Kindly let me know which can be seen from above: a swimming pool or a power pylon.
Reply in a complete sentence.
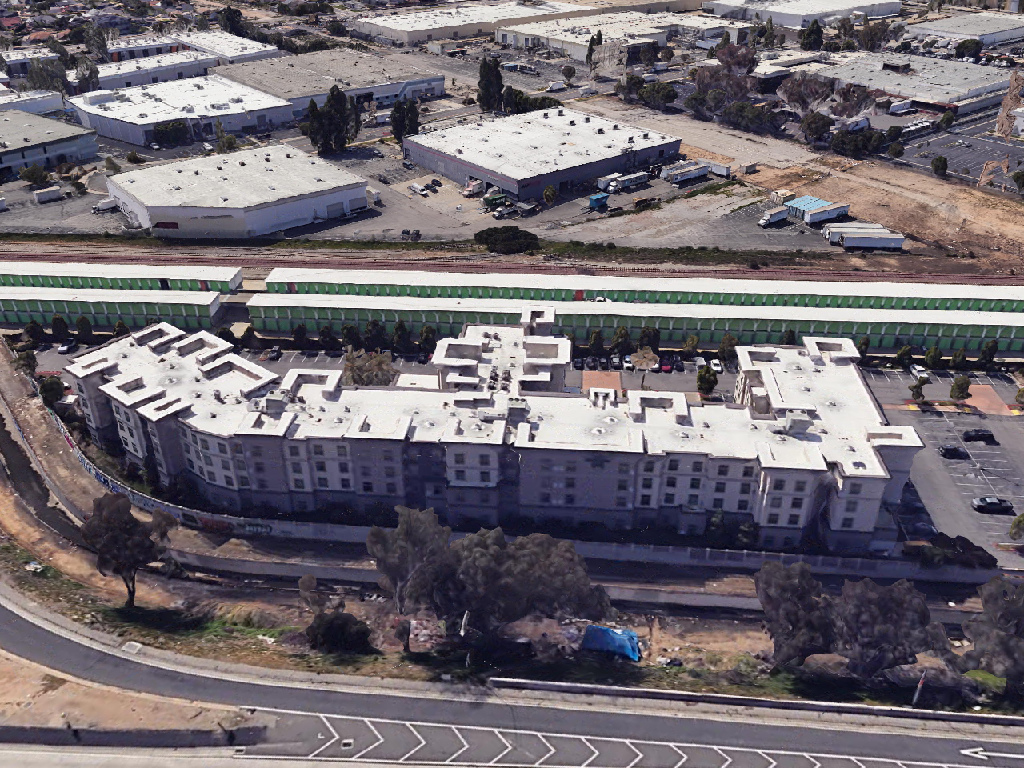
I can see a power pylon in this picture.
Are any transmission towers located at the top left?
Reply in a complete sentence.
No, no transmission tower is visible at the top left.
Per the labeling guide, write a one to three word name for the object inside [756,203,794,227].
truck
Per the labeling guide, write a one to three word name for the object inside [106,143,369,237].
building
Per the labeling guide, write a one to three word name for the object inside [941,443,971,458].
car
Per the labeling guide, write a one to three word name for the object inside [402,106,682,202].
building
